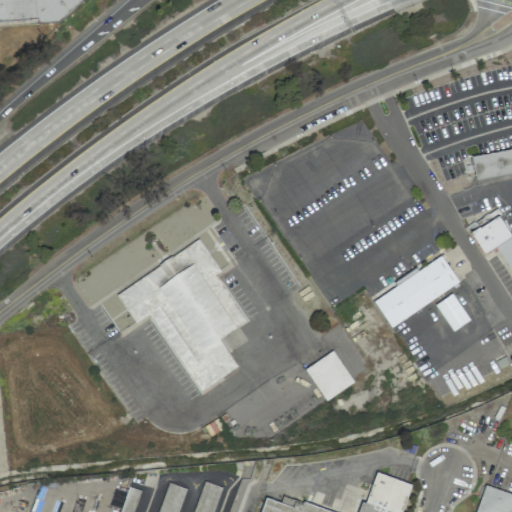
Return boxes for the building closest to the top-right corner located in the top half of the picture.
[474,148,512,180]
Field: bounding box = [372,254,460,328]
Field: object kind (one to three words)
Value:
building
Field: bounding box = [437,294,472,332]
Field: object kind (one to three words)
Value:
building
